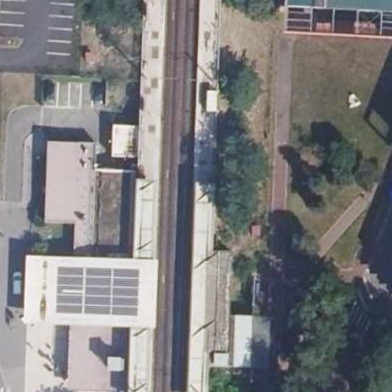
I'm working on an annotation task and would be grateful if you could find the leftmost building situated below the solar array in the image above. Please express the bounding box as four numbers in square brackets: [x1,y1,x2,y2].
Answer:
[67,326,112,392]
